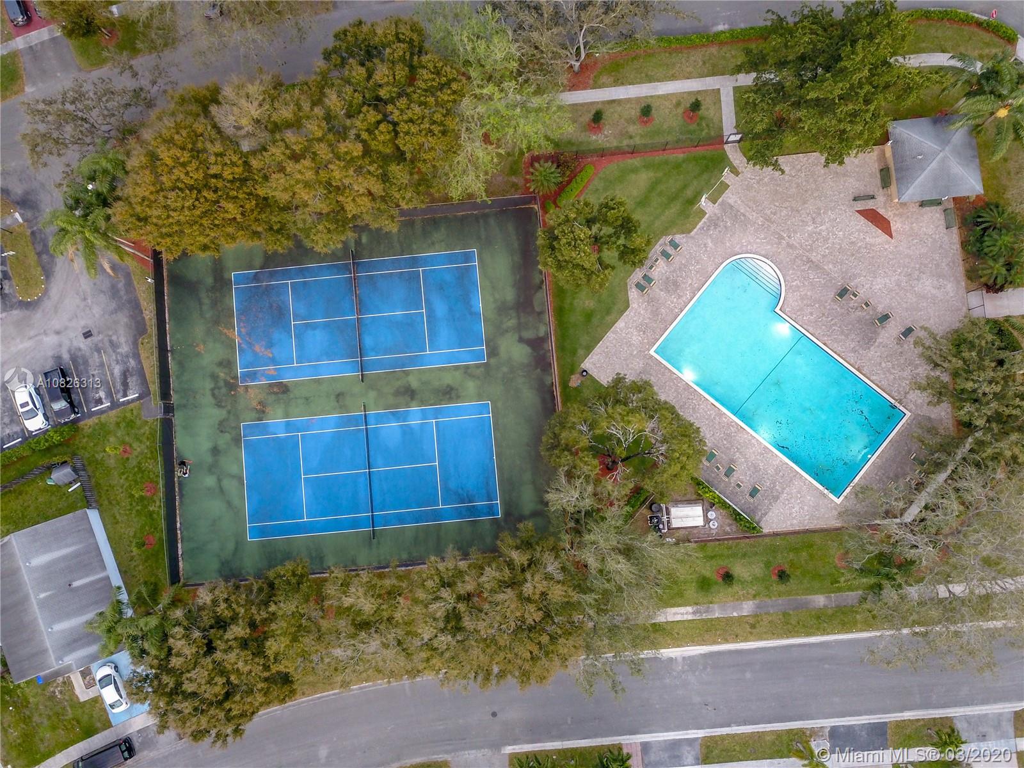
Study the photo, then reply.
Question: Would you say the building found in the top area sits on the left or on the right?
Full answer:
You can find the building found in the top area on the right side of the picture.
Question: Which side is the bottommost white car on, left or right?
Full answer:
You can find the bottommost white car on the left side of the picture.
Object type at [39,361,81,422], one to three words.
truck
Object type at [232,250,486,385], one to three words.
tennis court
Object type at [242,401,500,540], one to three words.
tennis court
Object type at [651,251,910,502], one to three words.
swimming pool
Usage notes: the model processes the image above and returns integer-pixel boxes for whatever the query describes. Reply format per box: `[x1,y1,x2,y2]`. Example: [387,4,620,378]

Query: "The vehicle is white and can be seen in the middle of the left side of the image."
[12,382,49,434]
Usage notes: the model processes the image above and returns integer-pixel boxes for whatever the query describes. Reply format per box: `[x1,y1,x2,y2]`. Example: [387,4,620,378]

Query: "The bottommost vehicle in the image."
[76,735,133,768]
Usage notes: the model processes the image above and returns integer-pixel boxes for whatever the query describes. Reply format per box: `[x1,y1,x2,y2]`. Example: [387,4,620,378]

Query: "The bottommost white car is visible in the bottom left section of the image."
[93,663,128,718]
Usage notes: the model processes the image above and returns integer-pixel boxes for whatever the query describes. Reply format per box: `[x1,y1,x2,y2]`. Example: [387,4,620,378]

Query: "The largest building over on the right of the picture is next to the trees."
[880,115,984,206]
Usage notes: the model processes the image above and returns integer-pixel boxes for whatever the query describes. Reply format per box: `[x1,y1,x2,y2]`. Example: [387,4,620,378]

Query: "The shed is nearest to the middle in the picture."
[666,499,709,533]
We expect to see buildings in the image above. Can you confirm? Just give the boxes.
[0,509,136,685]
[880,115,984,206]
[51,463,87,484]
[666,499,709,533]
